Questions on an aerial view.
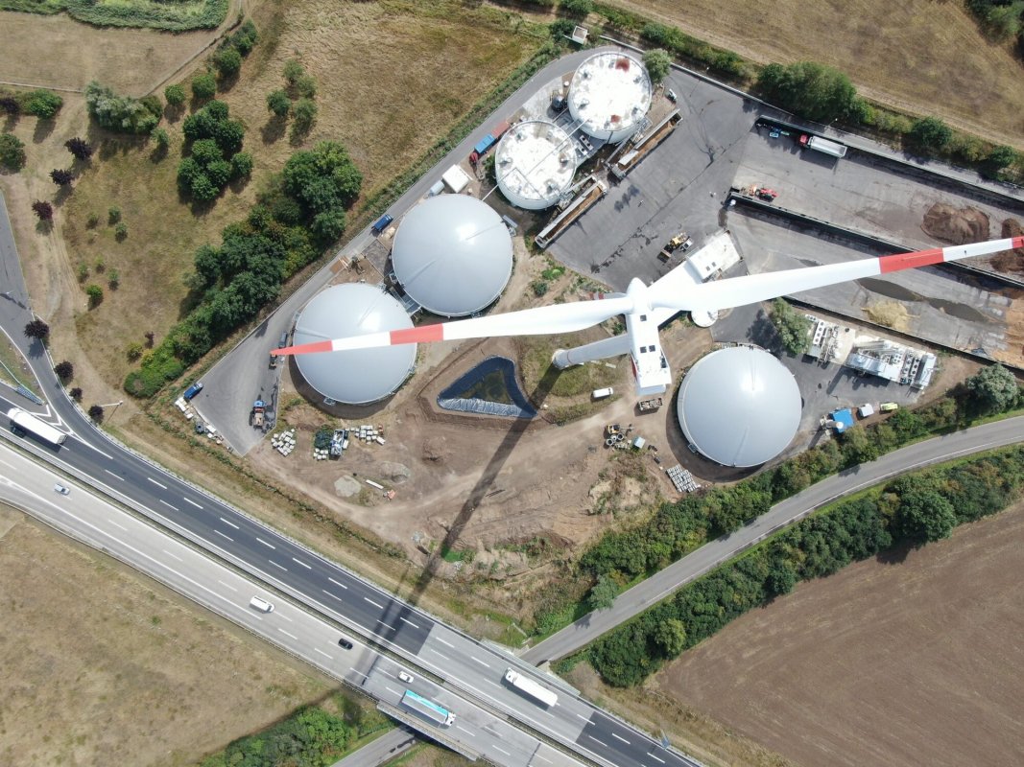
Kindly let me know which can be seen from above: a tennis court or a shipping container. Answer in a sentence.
The image shows a shipping container.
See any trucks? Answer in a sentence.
Yes, the frame does contain a truck.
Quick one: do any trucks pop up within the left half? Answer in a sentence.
Yes, a truck appears within the left half.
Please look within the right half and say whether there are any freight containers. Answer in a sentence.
Yes, looking within the right half, one can make out a freight container.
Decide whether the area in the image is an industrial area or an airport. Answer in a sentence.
This looks like an industrial area.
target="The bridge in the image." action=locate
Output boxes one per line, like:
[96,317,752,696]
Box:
[363,627,600,767]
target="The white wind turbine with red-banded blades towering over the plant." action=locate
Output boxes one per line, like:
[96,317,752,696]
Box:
[275,237,1024,398]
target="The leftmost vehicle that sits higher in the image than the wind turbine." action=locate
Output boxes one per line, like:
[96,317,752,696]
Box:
[373,215,393,232]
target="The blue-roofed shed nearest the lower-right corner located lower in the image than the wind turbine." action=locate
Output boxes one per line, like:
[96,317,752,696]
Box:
[828,407,856,433]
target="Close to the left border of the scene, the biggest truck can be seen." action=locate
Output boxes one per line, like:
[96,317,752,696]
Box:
[8,407,67,444]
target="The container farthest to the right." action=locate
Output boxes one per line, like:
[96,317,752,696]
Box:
[907,353,937,389]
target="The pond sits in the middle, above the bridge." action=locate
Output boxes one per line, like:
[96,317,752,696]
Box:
[437,355,538,418]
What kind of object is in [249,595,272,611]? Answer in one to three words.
vehicle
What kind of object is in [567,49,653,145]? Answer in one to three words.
storage tank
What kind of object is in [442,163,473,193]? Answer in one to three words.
shed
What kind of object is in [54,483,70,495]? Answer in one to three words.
vehicle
